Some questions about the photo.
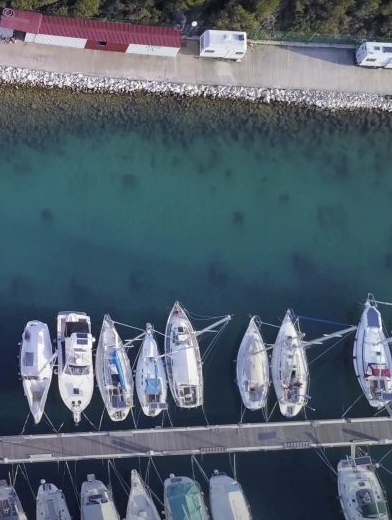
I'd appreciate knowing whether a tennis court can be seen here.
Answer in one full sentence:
No, I can't see a single tennis court in this photo.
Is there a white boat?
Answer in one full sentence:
Yes, there's a white boat down there.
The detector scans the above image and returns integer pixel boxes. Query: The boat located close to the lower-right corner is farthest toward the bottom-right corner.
[334,441,392,520]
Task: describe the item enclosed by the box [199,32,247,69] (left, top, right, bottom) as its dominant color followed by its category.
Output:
white camper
